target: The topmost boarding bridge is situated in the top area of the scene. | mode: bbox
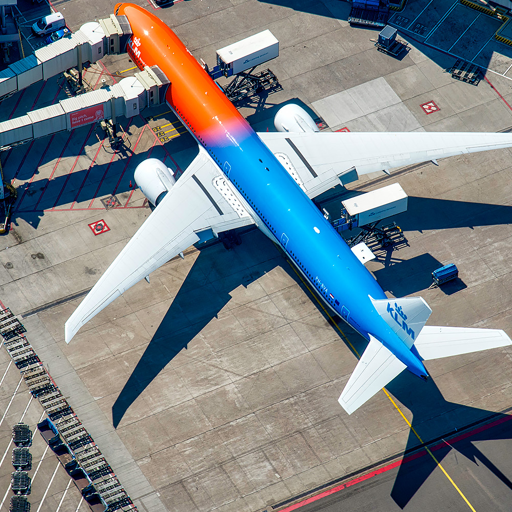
[0,11,138,105]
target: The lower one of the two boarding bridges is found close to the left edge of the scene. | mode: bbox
[0,64,172,156]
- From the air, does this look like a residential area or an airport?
airport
